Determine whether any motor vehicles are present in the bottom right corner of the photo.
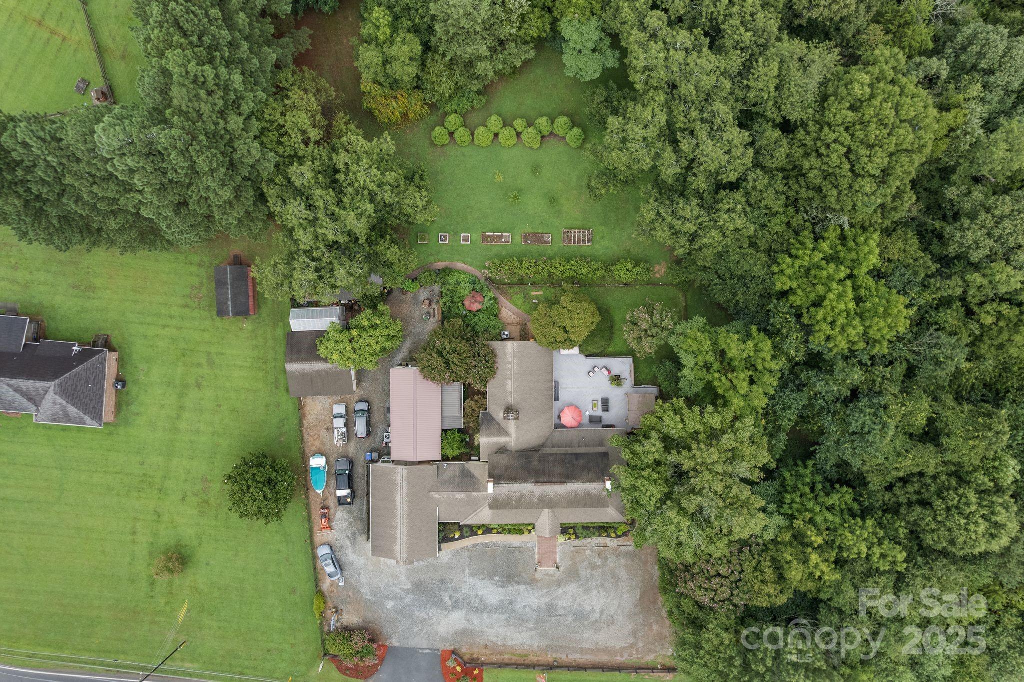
No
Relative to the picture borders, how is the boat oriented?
from top to bottom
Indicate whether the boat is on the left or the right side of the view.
left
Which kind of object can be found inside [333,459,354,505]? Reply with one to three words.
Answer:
truck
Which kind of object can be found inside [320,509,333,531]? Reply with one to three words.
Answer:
vehicle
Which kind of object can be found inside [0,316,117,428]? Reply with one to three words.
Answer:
house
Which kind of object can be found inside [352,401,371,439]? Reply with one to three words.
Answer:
car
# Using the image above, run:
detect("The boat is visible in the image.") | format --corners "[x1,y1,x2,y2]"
[309,452,329,497]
